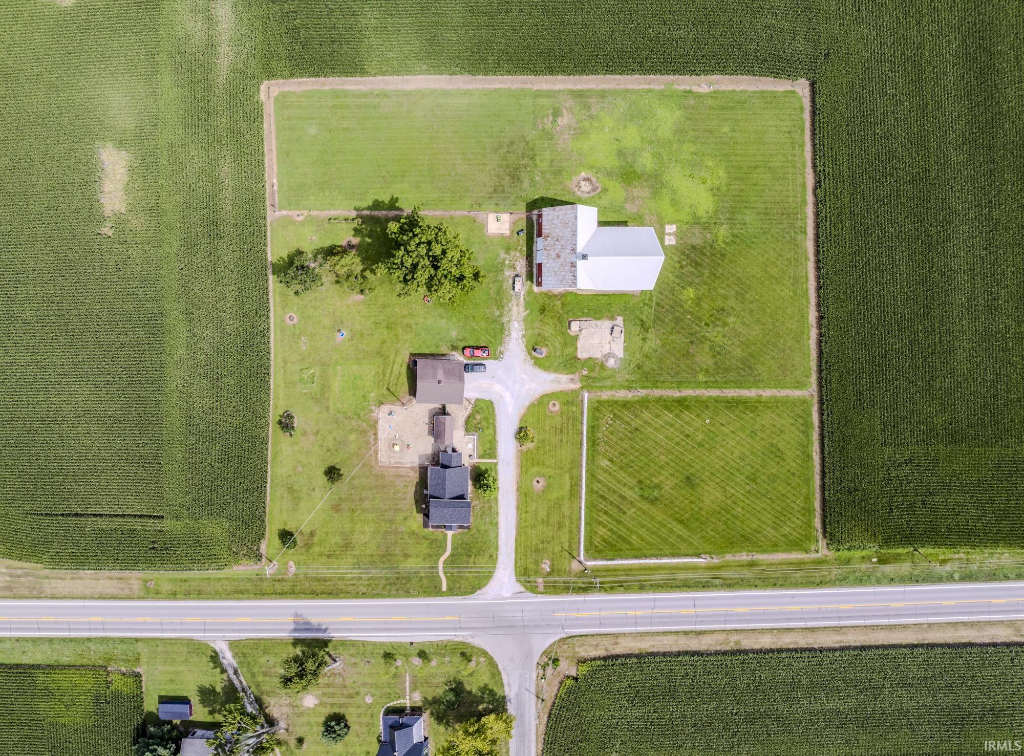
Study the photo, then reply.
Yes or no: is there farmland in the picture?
Yes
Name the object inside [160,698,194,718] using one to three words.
shed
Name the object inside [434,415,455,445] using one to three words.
shed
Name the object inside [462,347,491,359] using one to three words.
vehicle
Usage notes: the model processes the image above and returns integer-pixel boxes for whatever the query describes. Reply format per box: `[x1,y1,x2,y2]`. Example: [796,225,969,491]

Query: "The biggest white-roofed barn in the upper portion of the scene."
[536,204,665,291]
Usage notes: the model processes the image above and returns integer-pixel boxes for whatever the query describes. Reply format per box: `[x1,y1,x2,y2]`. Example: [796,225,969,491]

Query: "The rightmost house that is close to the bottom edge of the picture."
[377,712,429,756]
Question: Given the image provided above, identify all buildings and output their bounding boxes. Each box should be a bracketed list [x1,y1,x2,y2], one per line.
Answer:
[434,415,455,445]
[377,712,429,756]
[160,698,194,718]
[429,445,472,532]
[536,204,665,291]
[416,359,464,404]
[180,726,242,756]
